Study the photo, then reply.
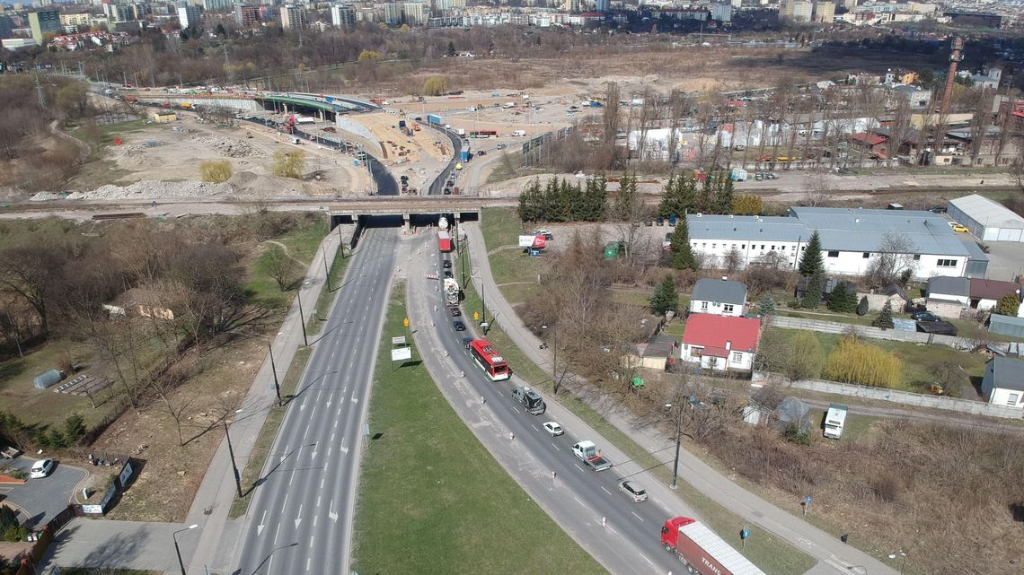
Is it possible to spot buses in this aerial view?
Yes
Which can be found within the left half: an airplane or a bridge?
bridge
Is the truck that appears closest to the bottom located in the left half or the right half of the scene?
right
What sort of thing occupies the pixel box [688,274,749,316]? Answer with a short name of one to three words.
house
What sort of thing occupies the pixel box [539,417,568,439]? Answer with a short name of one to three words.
car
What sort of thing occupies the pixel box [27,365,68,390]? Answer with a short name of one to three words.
greenhouse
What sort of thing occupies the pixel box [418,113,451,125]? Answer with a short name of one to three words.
vehicle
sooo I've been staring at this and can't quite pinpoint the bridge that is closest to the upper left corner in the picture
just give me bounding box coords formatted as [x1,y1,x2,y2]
[254,90,382,122]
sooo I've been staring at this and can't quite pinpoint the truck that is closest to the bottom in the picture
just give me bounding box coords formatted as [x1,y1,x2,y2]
[659,509,768,575]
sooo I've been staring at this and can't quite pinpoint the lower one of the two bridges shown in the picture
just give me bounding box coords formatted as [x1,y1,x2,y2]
[318,194,490,238]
